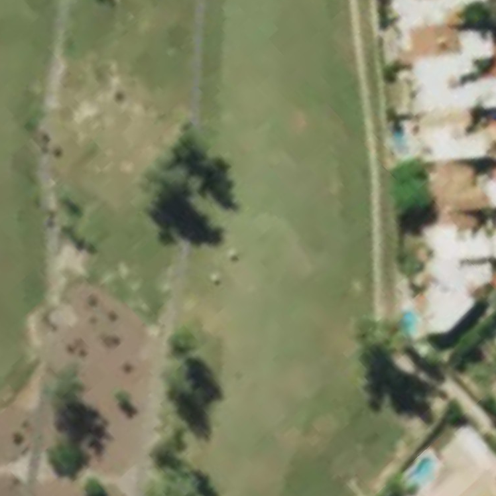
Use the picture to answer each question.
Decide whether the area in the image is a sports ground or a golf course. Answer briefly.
golf course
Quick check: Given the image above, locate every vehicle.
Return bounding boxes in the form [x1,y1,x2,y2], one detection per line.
[209,273,218,282]
[227,249,235,257]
